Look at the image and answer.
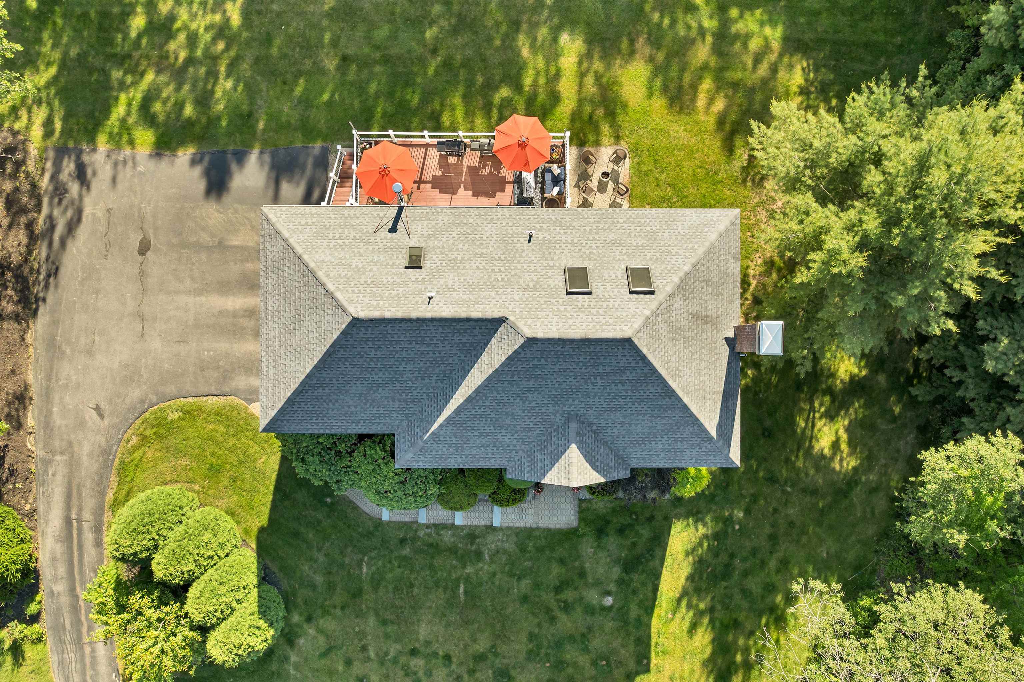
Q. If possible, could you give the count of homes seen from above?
one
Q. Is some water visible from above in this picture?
No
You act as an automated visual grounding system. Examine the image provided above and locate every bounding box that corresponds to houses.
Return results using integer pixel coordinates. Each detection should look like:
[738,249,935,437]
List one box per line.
[258,185,781,487]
